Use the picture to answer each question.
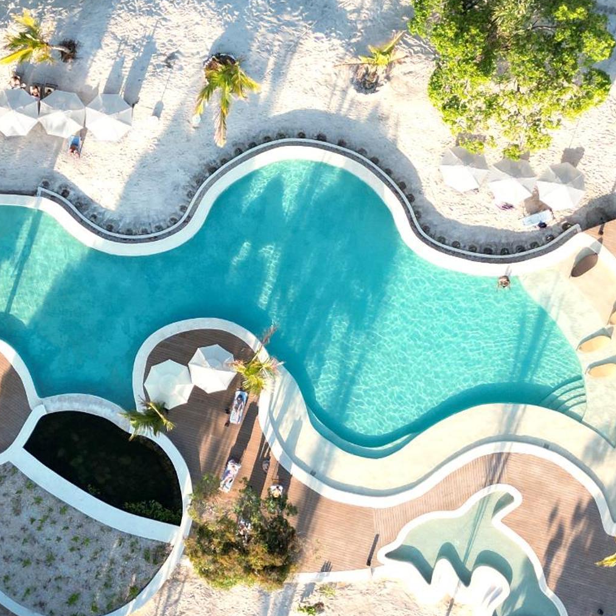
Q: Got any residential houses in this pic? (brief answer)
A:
No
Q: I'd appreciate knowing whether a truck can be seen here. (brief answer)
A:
No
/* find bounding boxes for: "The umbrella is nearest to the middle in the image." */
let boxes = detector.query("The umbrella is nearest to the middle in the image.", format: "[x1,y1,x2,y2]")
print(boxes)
[189,344,238,394]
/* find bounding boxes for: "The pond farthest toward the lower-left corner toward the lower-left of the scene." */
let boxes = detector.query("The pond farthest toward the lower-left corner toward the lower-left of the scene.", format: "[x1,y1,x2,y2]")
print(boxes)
[29,411,182,520]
